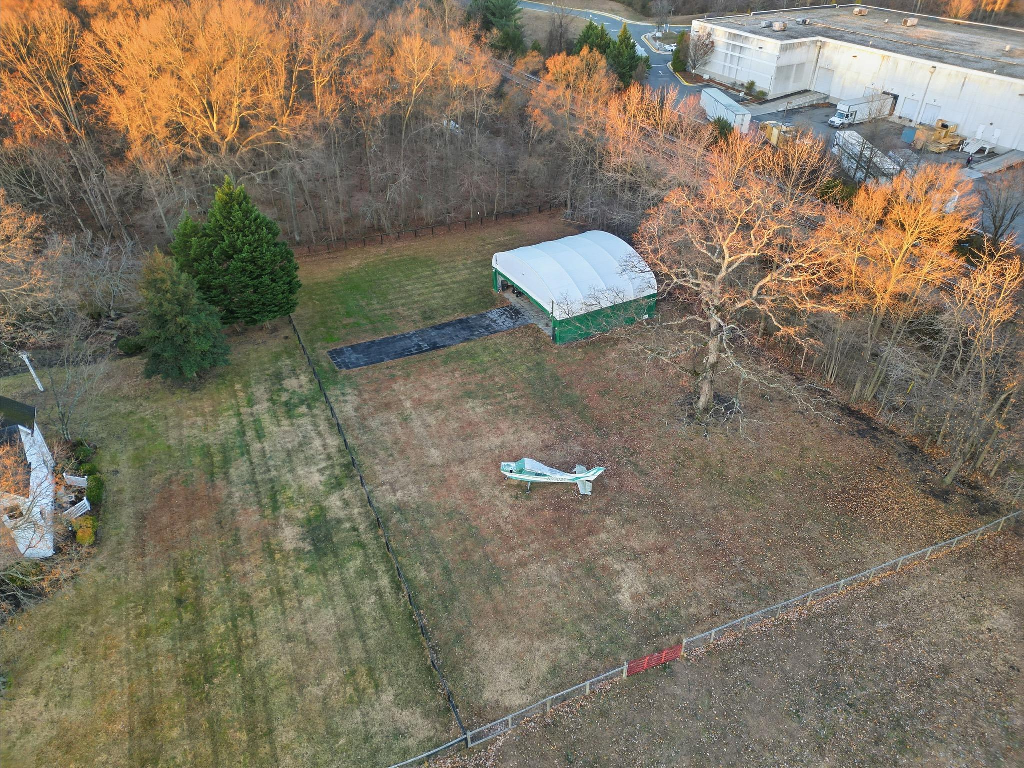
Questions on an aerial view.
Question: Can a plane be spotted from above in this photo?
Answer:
Yes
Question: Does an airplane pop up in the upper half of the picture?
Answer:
No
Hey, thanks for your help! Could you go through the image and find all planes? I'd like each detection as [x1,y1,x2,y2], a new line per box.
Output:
[501,457,619,496]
